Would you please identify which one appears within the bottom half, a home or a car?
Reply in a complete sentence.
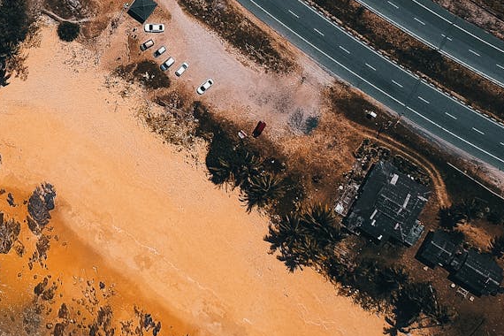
Visible within the bottom half is a home.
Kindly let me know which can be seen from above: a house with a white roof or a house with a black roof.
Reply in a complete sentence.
Looking from above, you can make out a house with a black roof.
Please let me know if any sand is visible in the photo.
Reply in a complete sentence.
Yes, there is sand in the image.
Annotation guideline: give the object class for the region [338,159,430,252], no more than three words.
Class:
house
